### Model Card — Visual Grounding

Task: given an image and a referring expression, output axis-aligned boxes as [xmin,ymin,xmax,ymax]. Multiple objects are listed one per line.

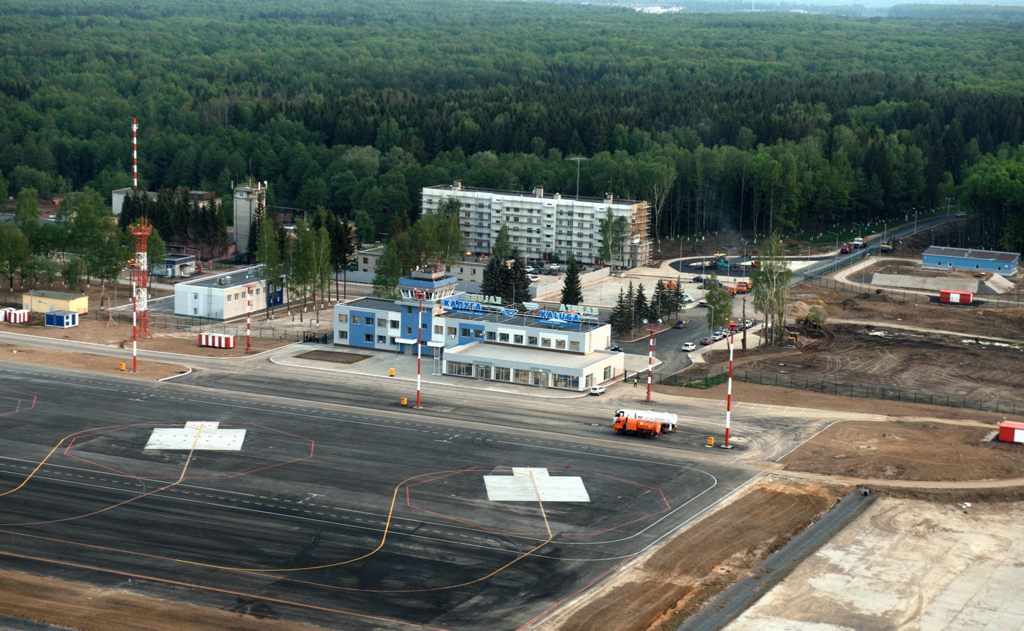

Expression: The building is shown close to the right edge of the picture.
[920,245,1024,275]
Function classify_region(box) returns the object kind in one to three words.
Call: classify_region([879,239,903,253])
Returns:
work vehicle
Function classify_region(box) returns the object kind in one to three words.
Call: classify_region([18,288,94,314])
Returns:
building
